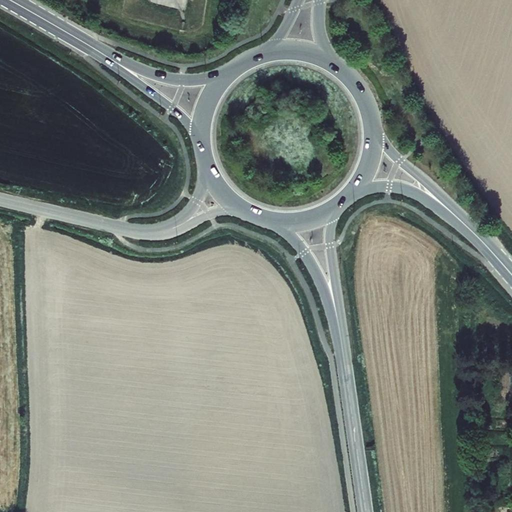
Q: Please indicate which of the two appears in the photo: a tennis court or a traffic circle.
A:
traffic circle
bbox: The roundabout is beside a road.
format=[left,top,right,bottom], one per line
[190,38,384,234]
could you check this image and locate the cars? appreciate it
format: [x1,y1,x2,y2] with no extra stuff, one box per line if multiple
[329,63,340,72]
[146,88,156,97]
[354,174,362,185]
[104,58,114,66]
[112,53,123,62]
[208,72,218,77]
[338,196,345,207]
[154,71,166,78]
[252,206,263,214]
[253,54,264,60]
[356,81,365,92]
[196,140,204,152]
[364,138,370,148]
[173,108,183,118]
